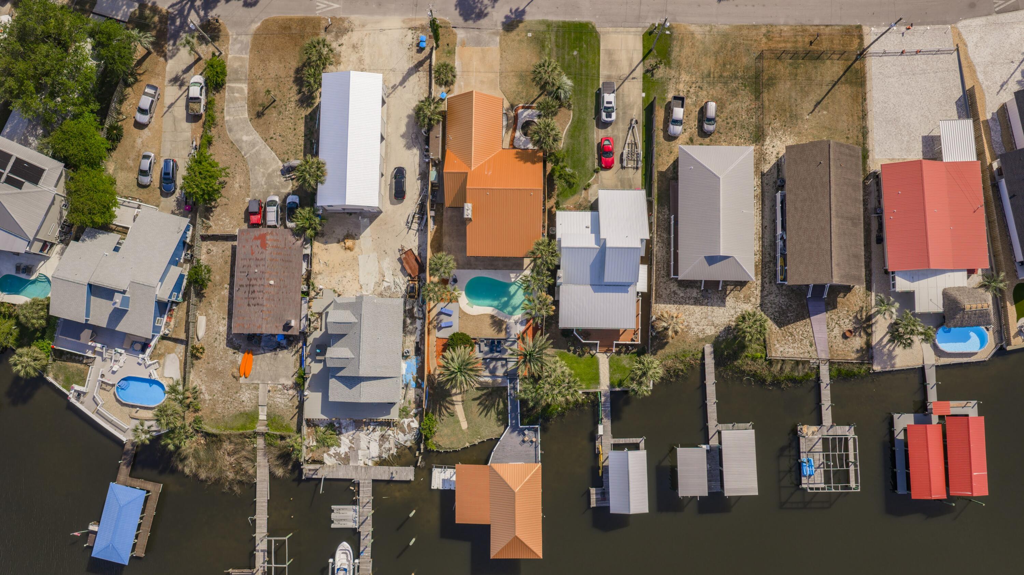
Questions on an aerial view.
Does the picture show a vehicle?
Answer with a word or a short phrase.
Yes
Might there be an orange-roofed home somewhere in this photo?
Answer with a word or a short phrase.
Yes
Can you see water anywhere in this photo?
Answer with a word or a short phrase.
Yes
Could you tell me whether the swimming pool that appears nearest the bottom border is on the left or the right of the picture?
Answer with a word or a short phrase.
left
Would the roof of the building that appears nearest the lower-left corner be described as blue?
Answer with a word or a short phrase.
Yes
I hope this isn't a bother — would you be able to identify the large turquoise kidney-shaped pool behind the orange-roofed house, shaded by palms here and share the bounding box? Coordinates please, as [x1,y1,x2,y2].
[462,274,533,318]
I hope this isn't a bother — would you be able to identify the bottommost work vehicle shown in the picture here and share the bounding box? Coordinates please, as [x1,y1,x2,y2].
[407,276,421,301]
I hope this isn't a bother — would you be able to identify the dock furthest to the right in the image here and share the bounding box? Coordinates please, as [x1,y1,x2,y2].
[889,364,982,494]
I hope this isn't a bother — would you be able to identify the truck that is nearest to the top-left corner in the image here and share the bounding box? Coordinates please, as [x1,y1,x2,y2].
[137,84,163,125]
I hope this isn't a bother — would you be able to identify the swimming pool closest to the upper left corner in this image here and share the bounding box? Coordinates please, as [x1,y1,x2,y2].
[0,271,52,300]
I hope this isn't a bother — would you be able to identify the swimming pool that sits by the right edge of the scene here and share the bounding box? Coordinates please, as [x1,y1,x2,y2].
[930,324,990,354]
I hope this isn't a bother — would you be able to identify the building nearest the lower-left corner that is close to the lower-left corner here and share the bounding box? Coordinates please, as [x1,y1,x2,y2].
[83,482,155,566]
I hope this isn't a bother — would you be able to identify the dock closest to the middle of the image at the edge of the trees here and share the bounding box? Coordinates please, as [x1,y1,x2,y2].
[489,377,542,464]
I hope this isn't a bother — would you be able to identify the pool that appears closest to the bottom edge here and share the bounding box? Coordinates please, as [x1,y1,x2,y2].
[115,372,171,407]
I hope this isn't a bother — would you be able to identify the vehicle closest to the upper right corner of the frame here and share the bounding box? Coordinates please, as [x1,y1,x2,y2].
[701,102,717,134]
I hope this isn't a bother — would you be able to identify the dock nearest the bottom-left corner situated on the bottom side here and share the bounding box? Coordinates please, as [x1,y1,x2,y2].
[114,440,166,557]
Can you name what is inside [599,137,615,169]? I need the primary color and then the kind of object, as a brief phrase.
red car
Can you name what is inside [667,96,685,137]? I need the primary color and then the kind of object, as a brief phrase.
gray vehicle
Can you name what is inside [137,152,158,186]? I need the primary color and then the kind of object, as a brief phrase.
gray car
